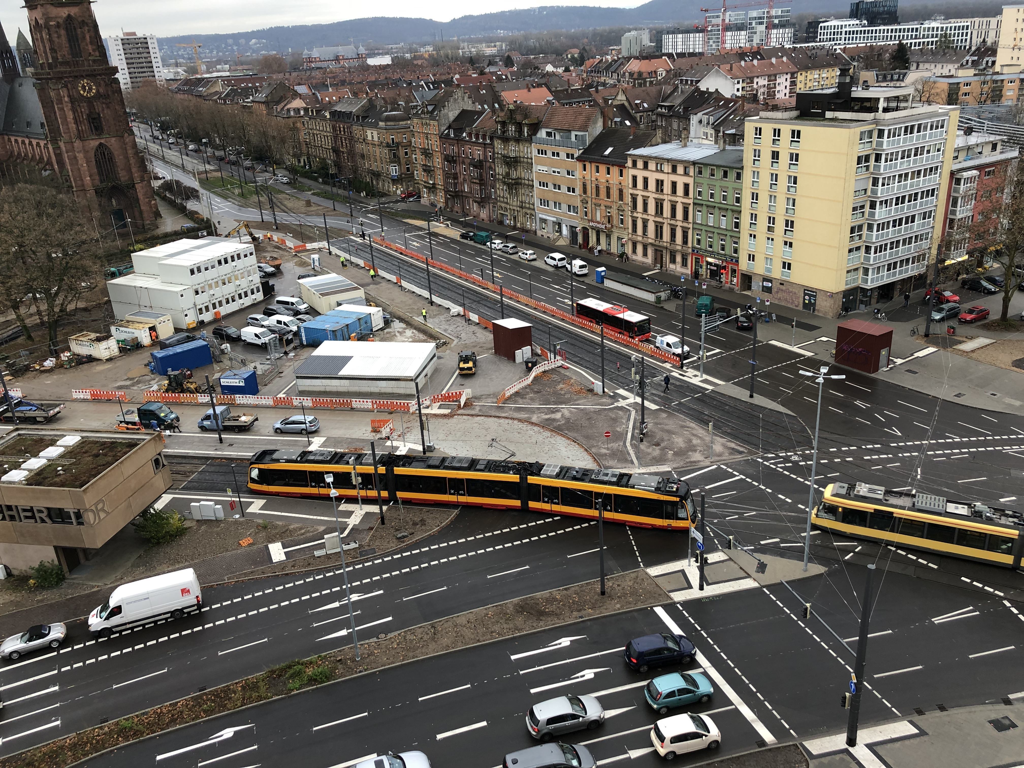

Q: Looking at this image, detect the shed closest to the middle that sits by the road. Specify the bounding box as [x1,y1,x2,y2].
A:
[490,310,540,363]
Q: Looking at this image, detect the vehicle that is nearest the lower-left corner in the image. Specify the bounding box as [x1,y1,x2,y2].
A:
[1,622,71,660]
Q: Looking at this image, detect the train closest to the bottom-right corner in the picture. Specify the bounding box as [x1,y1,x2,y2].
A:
[815,476,1024,569]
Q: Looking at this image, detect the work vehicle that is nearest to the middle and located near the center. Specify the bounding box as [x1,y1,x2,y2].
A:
[453,348,484,379]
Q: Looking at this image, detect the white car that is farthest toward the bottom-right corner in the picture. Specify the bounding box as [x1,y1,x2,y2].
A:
[649,711,724,762]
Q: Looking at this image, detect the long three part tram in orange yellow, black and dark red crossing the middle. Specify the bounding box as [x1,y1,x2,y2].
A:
[249,435,699,528]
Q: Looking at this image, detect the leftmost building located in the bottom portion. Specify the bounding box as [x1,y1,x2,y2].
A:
[0,428,174,567]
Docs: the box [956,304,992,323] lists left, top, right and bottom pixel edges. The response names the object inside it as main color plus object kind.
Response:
red car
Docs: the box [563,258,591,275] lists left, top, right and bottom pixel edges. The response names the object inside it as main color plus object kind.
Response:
white vehicle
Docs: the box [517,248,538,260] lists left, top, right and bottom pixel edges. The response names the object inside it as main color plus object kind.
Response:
white vehicle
